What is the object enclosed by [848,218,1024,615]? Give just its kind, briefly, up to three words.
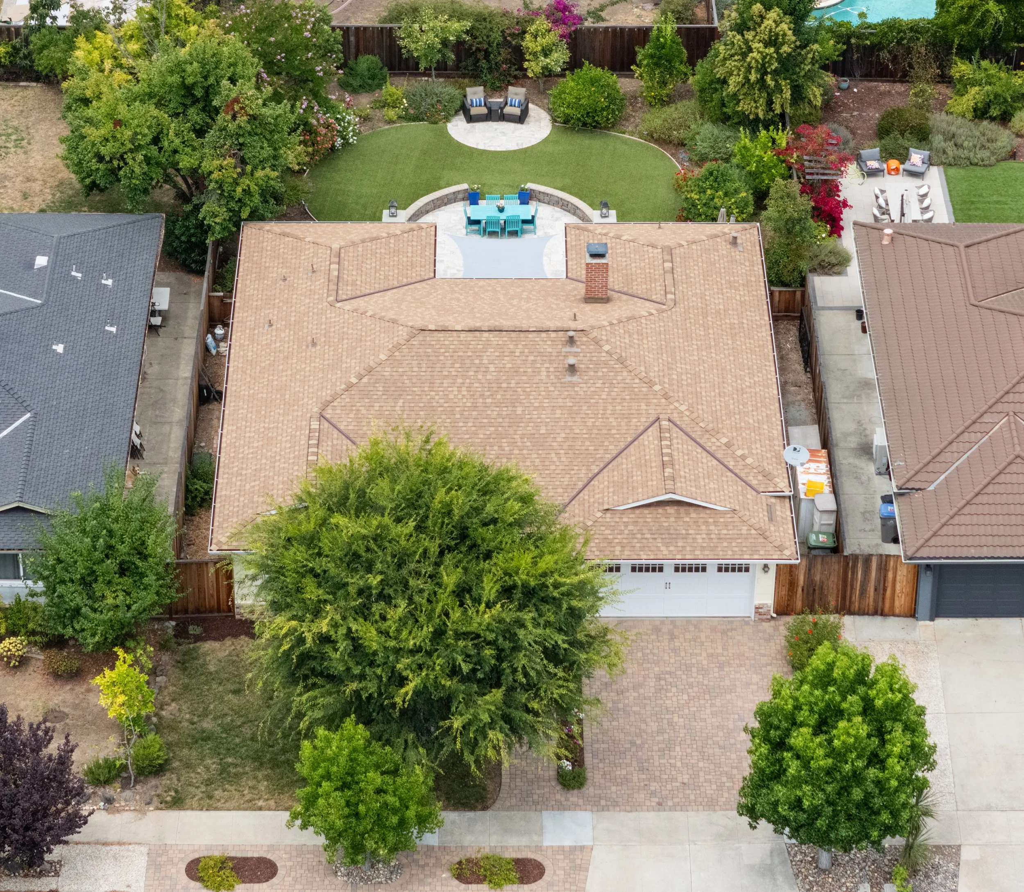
house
